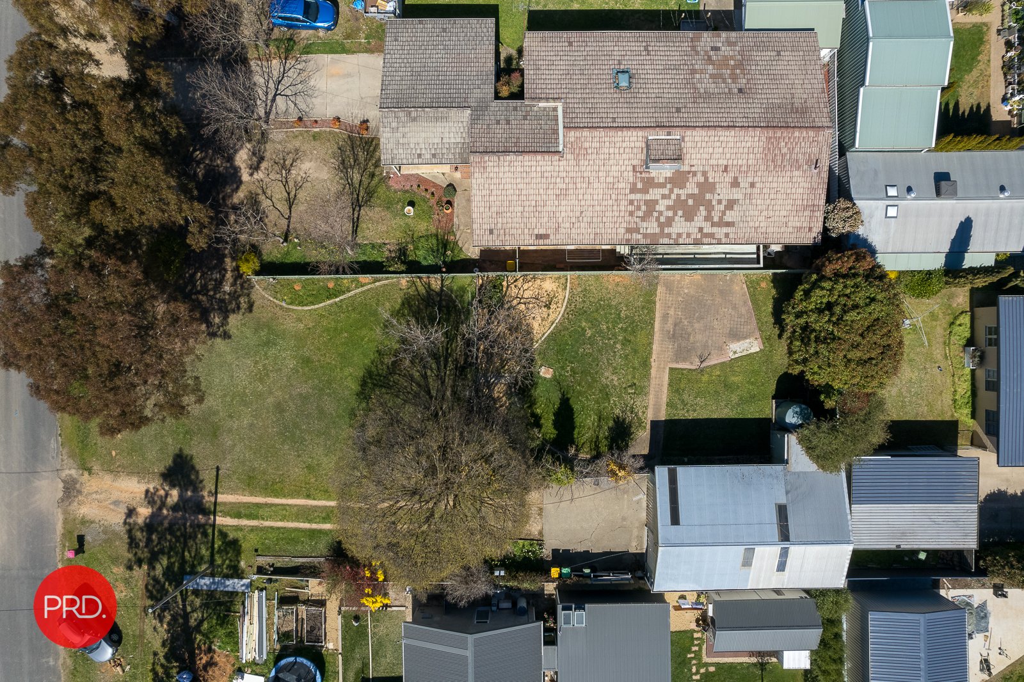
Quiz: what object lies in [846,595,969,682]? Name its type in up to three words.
building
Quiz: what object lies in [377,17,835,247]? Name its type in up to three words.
house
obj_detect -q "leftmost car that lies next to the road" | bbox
[53,599,115,657]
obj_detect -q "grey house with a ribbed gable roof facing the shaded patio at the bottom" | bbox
[401,610,544,682]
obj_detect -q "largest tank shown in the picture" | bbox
[776,399,813,431]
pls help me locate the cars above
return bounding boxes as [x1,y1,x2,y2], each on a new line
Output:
[53,599,115,657]
[270,0,339,33]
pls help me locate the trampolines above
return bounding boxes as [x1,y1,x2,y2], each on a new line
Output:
[265,651,323,682]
